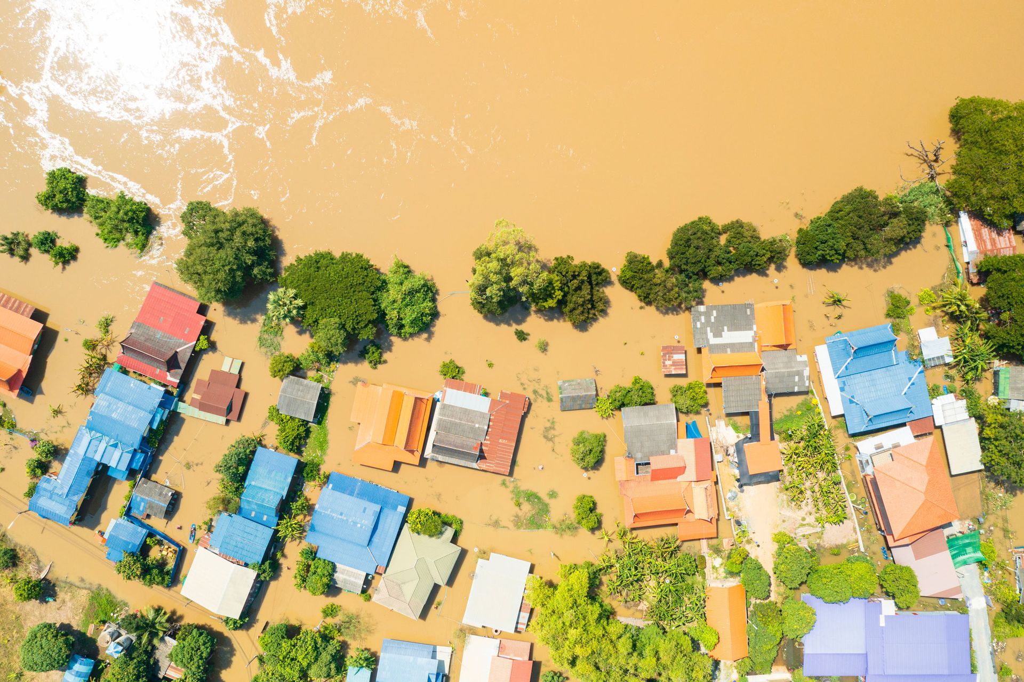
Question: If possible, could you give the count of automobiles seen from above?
none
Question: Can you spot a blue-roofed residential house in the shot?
Yes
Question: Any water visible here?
Yes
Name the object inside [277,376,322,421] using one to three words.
shed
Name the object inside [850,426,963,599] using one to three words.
house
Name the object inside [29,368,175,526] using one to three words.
house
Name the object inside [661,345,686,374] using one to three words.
shed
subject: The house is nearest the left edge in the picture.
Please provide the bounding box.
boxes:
[0,294,46,398]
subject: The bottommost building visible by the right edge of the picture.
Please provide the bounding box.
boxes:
[798,592,977,682]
